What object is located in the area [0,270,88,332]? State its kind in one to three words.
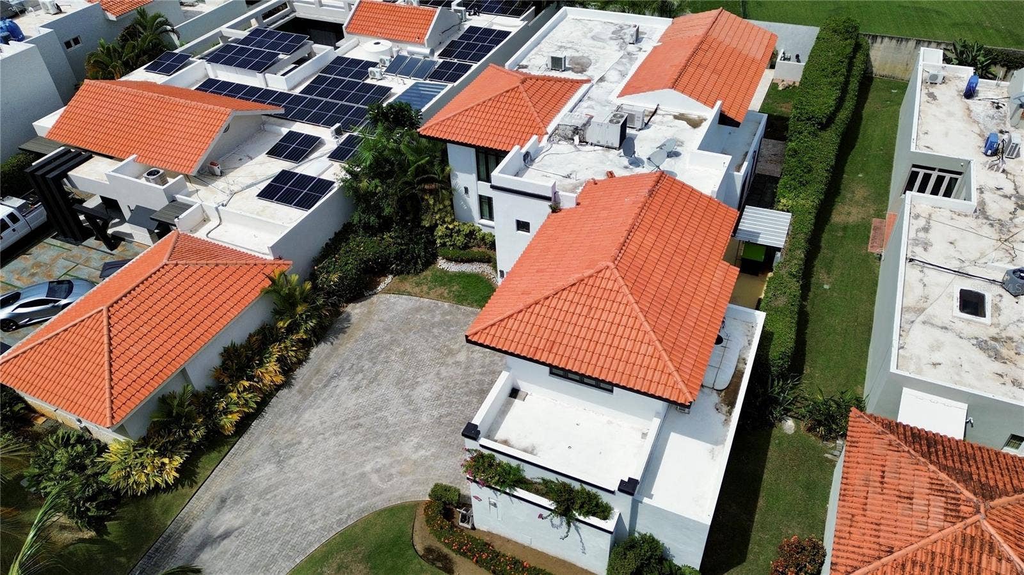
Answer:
car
